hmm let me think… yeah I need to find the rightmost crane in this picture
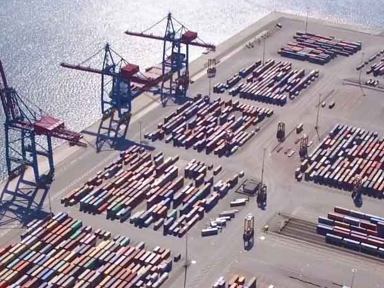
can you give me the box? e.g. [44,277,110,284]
[115,13,226,87]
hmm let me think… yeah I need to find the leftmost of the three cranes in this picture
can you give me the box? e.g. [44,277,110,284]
[0,80,86,188]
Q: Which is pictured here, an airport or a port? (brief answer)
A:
port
